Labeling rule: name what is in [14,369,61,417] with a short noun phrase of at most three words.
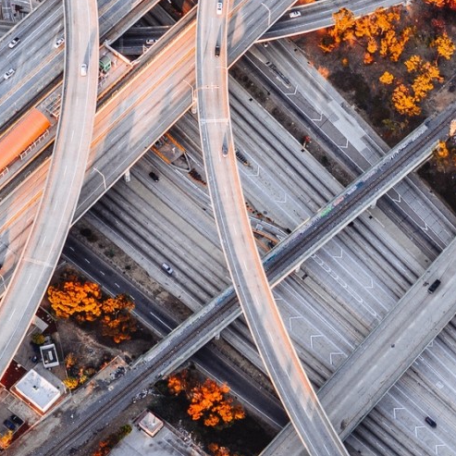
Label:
building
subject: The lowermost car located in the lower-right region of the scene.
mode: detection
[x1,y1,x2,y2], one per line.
[425,415,439,429]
